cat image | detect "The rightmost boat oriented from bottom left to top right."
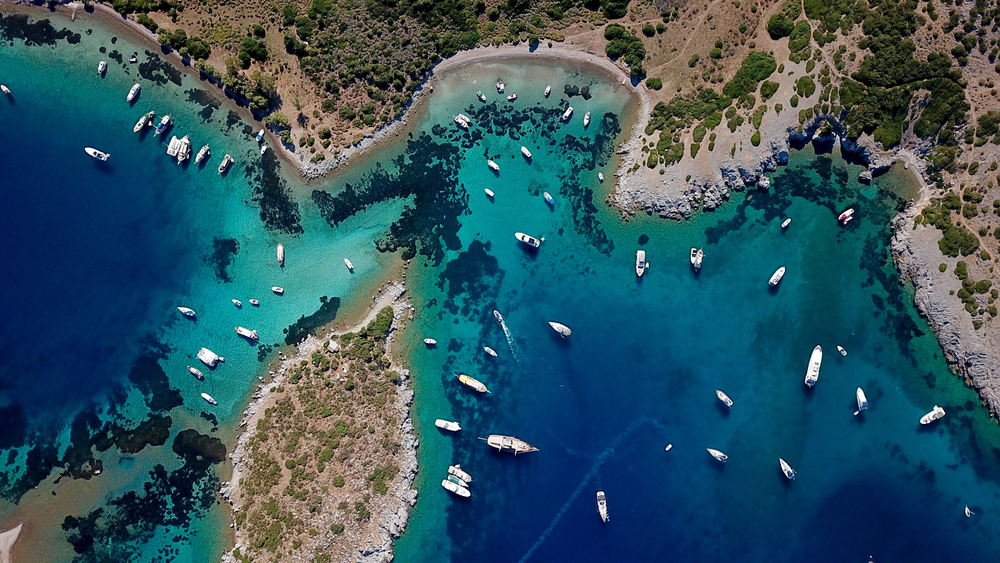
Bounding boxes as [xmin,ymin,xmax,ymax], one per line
[918,404,944,423]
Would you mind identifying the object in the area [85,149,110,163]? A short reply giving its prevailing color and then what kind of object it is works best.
white boat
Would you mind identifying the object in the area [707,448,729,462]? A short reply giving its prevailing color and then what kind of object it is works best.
white boat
